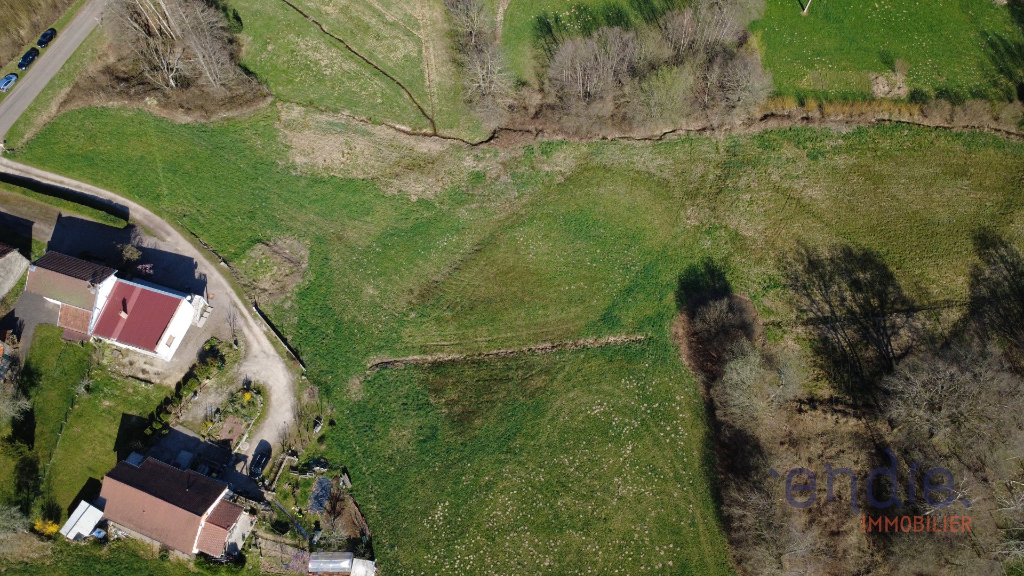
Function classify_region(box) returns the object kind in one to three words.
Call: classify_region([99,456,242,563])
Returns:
house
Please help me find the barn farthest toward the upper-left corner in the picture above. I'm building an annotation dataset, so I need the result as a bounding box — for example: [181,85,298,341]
[0,241,30,300]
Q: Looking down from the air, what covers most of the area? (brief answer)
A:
grass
